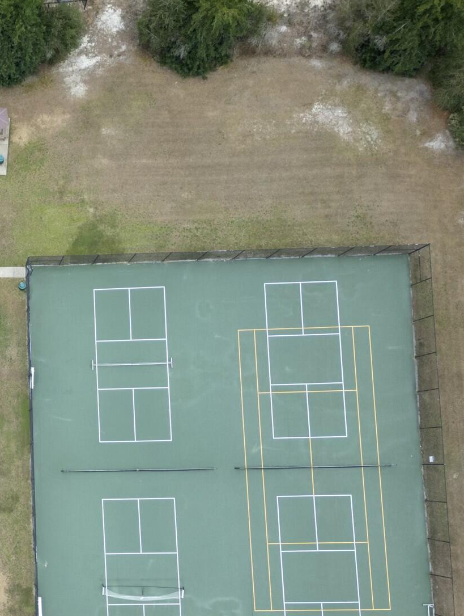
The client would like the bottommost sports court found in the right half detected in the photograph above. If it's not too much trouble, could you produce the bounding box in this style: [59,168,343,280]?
[277,495,361,616]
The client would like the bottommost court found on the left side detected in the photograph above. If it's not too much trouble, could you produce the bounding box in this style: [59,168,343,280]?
[102,497,182,616]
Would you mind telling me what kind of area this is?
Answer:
sports ground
